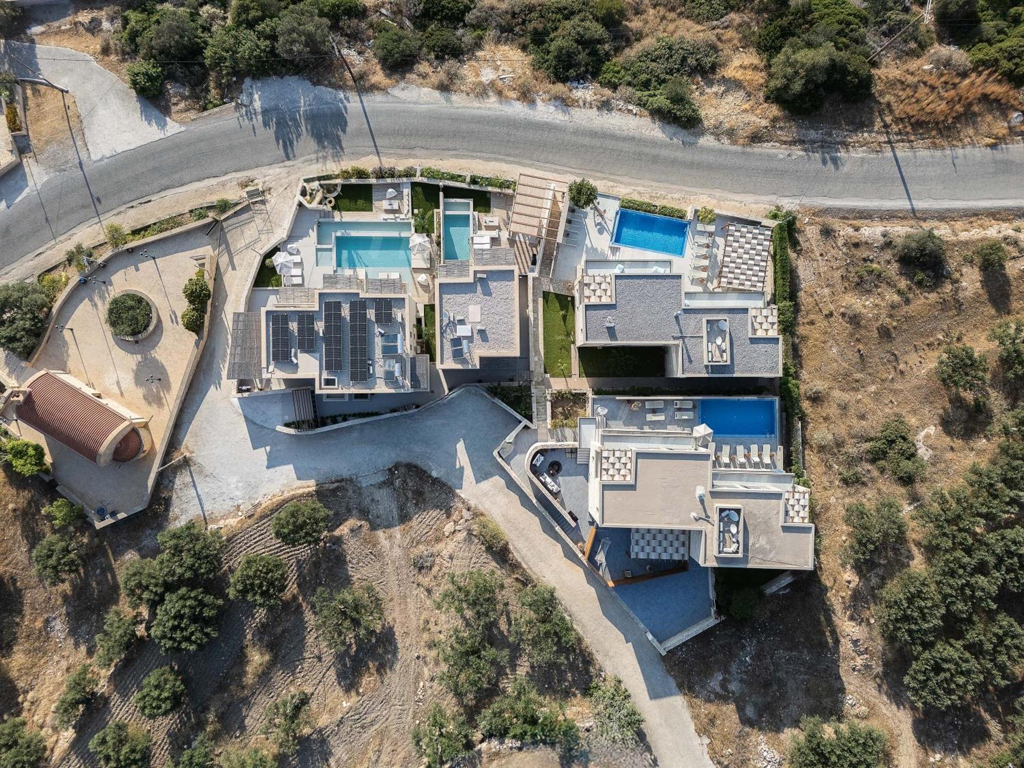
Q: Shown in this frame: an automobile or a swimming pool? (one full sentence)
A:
I can see a swimming pool in this picture.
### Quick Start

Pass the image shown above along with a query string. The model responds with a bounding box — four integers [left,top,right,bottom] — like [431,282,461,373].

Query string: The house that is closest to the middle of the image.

[435,265,520,371]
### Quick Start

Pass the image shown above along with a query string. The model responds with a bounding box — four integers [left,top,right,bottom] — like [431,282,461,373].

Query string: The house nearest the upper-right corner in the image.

[576,260,782,378]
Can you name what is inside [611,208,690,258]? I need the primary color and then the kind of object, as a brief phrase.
blue swimming pool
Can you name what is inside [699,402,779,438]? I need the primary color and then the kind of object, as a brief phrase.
blue swimming pool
